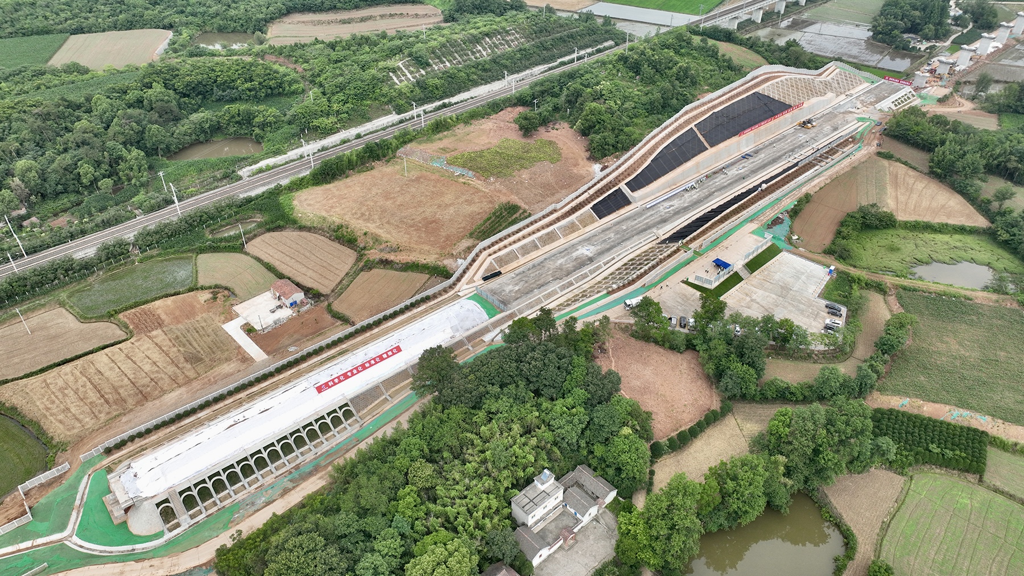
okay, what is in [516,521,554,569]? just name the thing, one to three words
house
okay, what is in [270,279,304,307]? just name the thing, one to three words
house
